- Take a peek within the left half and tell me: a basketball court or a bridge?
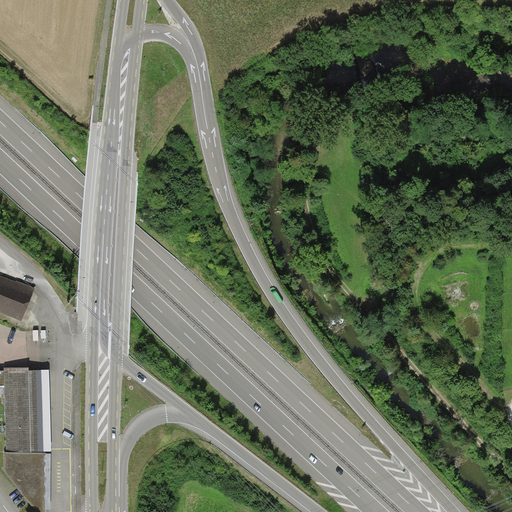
bridge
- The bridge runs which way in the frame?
up and down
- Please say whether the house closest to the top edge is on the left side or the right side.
left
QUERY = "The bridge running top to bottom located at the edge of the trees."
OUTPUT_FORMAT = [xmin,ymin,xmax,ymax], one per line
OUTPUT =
[74,138,138,344]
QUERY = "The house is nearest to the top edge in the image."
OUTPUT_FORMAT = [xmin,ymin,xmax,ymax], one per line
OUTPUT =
[0,276,34,320]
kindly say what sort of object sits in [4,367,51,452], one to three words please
building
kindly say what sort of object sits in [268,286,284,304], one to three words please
vehicle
